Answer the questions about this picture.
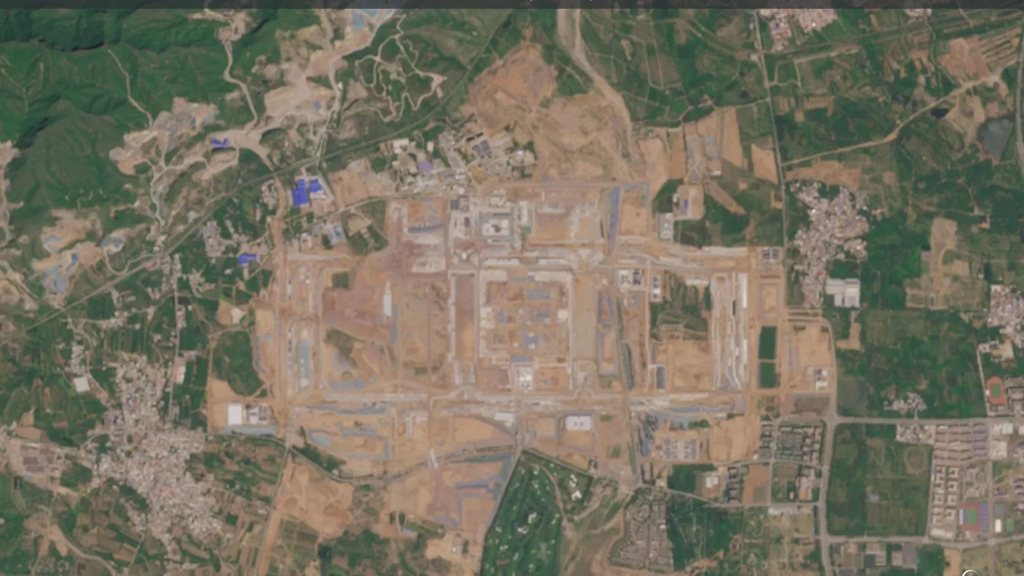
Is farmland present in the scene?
Yes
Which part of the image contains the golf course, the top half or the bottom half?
bottom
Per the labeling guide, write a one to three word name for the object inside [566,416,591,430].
building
